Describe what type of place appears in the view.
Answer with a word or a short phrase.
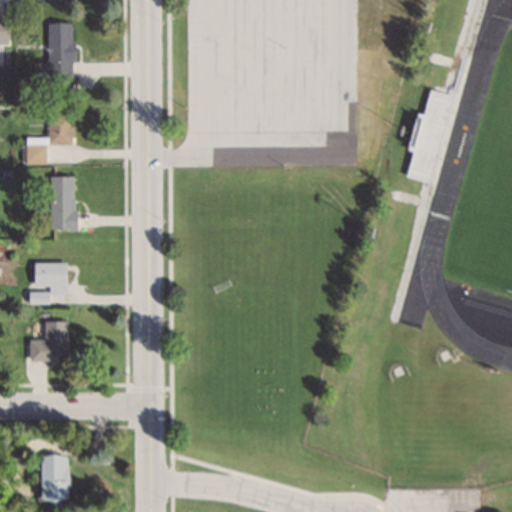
sports ground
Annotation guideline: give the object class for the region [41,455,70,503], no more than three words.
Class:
house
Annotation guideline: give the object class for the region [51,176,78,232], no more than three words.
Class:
house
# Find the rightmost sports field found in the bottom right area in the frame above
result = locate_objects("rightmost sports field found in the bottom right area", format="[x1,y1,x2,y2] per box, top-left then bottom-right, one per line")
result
[382,330,512,487]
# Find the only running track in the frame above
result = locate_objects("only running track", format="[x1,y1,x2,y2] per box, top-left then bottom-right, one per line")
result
[402,0,512,370]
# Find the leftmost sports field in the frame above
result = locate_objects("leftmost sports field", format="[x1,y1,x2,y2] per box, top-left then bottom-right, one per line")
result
[174,168,378,488]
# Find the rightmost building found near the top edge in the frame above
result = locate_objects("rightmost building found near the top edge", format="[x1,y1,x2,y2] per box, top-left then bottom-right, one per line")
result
[47,22,76,78]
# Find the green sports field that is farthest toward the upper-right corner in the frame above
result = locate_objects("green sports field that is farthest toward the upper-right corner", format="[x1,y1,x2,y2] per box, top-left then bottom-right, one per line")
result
[444,26,512,298]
